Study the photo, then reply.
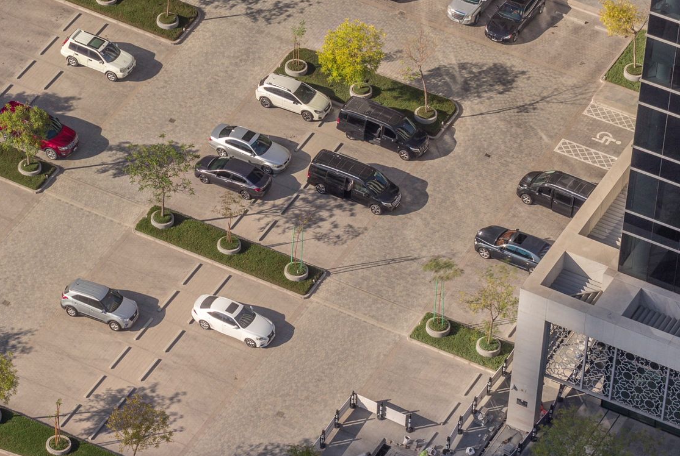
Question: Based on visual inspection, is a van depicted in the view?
Yes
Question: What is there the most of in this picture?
paved ground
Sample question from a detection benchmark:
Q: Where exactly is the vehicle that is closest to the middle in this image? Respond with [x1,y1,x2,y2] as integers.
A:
[306,147,406,215]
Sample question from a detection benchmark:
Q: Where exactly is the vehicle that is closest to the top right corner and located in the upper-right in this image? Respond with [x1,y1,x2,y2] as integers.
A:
[483,0,548,45]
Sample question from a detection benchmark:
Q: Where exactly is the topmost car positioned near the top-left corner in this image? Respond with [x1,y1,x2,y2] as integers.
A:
[58,25,139,81]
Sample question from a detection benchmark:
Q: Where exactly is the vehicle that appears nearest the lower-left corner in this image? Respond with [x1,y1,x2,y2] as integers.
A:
[58,277,143,331]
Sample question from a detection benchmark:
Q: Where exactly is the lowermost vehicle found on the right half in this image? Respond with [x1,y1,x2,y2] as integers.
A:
[468,224,553,272]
